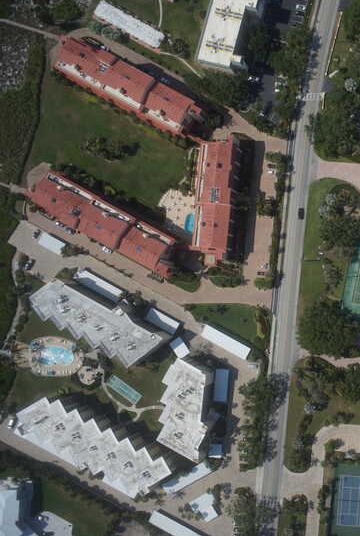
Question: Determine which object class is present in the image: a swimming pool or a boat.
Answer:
swimming pool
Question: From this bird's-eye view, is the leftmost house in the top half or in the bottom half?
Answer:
bottom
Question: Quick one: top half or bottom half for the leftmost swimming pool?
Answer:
bottom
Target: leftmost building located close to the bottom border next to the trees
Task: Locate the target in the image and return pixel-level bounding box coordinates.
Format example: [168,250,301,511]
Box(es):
[0,478,36,536]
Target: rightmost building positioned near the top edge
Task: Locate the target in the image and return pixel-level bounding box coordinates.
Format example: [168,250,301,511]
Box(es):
[198,0,267,77]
